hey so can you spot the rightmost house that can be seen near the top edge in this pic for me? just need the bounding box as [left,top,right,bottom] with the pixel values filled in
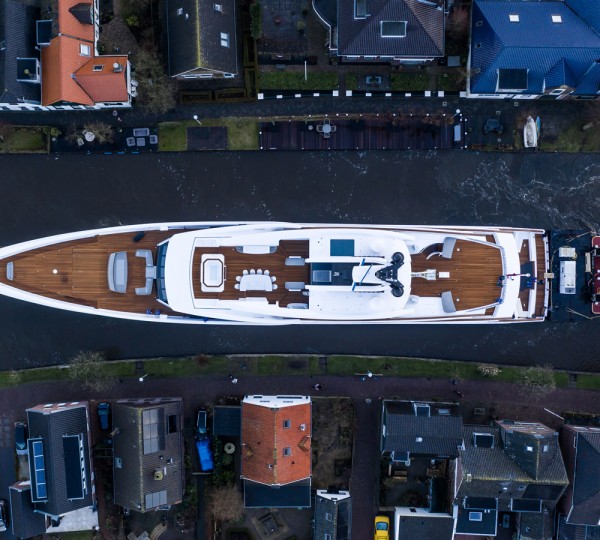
[464,0,600,102]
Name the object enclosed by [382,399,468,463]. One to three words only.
house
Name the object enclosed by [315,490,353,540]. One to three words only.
house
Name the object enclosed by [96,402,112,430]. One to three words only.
car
